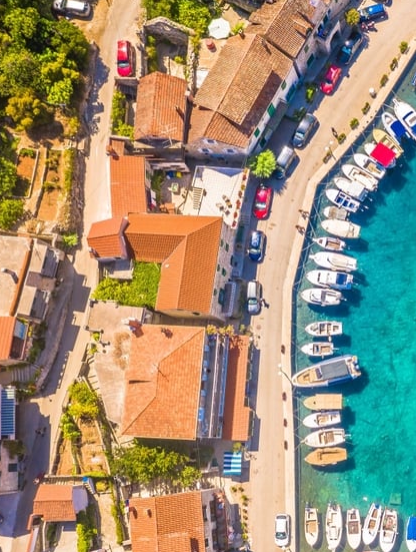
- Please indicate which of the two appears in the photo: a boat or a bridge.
boat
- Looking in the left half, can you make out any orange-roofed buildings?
Yes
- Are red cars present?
Yes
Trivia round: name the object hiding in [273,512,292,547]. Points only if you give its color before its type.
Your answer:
white car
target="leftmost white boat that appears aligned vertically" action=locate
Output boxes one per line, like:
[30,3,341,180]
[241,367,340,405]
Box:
[304,503,320,552]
